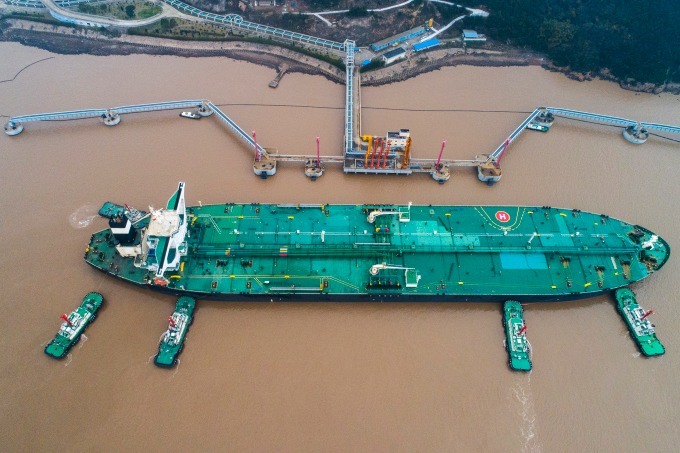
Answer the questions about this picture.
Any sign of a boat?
Yes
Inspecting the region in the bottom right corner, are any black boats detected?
No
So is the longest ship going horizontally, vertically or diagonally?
horizontally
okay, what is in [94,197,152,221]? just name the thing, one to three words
boat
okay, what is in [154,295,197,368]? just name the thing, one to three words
boat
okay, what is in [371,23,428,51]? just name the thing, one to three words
building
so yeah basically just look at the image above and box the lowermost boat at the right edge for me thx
[617,286,666,357]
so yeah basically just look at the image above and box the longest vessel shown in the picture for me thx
[83,179,671,302]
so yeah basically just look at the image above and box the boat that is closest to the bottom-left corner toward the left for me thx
[42,290,103,363]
